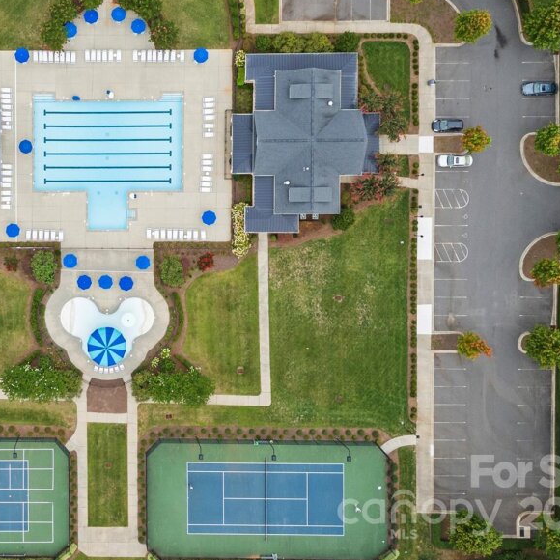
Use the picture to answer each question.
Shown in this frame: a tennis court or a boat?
tennis court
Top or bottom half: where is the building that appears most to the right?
top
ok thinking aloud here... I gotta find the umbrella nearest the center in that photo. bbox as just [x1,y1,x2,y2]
[201,210,216,225]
